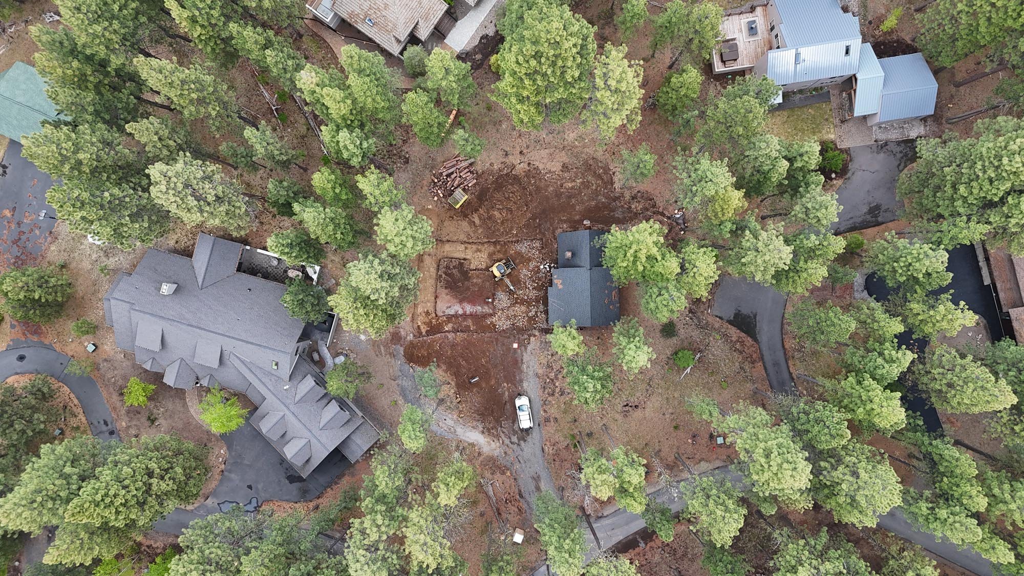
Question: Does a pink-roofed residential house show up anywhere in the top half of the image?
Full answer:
No, no pink-roofed residential house can be made out in the top half of the image.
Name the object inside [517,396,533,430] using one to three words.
vehicle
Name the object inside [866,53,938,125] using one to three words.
building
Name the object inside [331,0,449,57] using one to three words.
house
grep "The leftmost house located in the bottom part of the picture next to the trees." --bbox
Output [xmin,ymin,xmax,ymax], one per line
[104,232,381,479]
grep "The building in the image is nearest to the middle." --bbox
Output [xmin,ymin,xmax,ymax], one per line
[548,230,620,326]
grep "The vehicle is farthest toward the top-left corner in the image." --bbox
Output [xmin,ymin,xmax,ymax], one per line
[488,257,516,290]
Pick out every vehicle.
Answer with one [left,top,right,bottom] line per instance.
[517,396,533,430]
[488,257,516,290]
